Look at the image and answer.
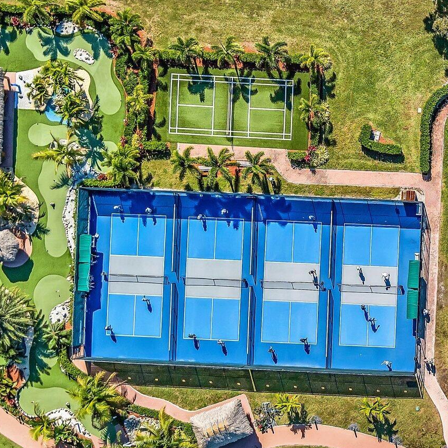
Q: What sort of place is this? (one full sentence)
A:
The area seen from above is a sports ground.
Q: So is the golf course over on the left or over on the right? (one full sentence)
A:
The golf course is on the left side of the image.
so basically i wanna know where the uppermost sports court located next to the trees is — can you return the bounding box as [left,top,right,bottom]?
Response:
[154,66,310,150]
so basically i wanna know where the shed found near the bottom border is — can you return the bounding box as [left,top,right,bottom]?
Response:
[191,393,255,448]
